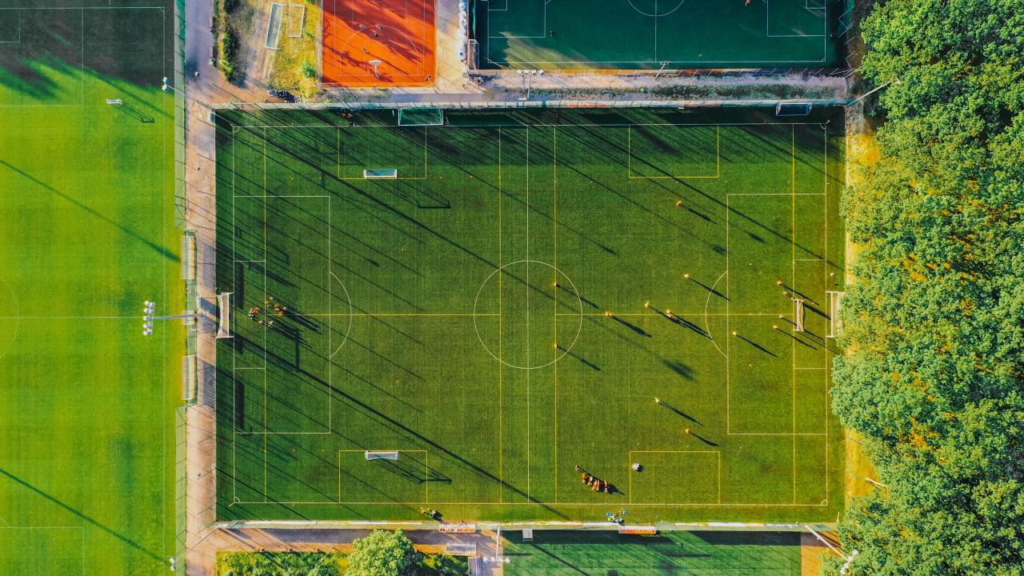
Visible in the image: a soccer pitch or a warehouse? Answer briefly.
soccer pitch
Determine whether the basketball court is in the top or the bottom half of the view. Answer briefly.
top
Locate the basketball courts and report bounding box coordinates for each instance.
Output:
[322,0,436,87]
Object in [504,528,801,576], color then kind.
green sports field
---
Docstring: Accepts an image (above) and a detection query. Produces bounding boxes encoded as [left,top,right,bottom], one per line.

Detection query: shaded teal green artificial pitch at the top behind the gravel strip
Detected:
[477,0,842,70]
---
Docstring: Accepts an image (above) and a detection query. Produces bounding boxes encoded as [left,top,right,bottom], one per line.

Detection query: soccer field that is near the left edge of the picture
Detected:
[0,0,196,576]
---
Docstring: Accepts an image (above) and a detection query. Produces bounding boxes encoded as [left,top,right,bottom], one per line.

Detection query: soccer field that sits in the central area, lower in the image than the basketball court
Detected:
[216,106,845,522]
